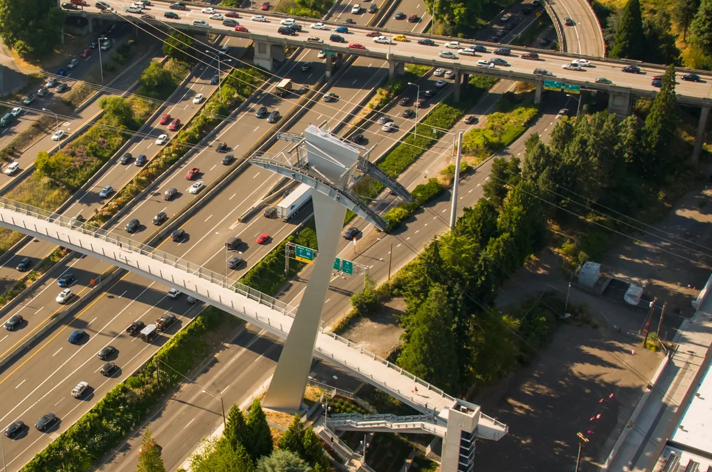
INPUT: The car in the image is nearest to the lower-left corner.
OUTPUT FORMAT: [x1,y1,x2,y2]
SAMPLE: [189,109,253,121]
[2,420,26,438]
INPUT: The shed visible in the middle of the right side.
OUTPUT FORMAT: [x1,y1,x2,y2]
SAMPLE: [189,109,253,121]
[576,260,600,296]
